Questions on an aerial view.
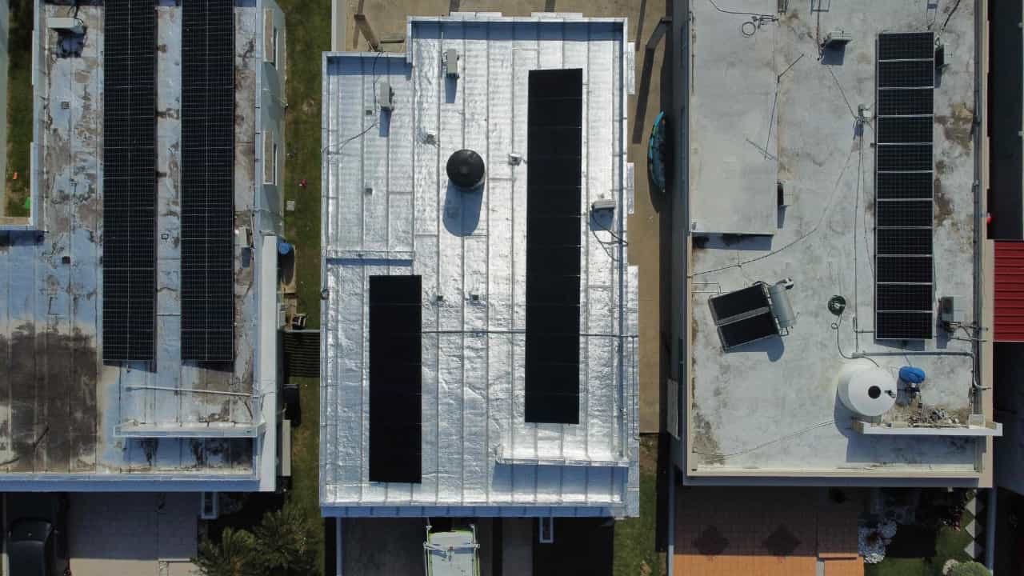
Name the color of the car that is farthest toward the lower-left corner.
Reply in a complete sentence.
From above, the car that is farthest toward the lower-left corner appears black.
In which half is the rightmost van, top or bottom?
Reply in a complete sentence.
Seen from above, the rightmost van lies in the bottom half of the view.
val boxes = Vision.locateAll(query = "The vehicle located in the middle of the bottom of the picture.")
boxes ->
[424,516,485,576]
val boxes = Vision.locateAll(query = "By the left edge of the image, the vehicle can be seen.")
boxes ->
[5,498,72,576]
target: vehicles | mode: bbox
[424,516,485,576]
[5,498,72,576]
